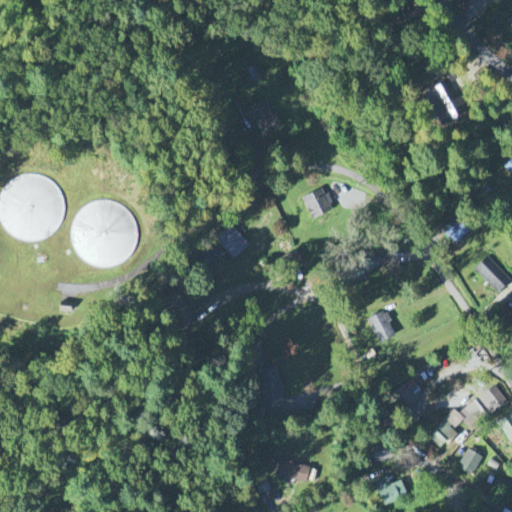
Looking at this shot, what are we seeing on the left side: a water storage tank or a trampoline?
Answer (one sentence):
You can see a water storage tank on the left side.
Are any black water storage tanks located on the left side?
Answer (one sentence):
No, I see no black water storage tank on the left side.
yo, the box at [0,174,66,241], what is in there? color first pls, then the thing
white water tank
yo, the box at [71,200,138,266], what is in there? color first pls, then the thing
white water tank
